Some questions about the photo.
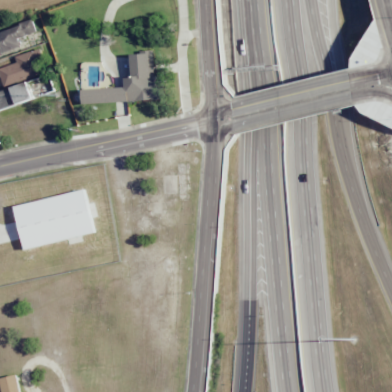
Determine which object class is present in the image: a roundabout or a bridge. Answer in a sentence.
It is a bridge that can be seen here.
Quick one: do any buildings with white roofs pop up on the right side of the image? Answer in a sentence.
No, the scene shows no building with a white roof on the right side of the image.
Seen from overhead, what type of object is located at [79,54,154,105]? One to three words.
house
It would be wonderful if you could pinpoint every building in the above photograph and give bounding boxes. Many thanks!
[79,54,154,105]
[0,50,38,88]
[12,190,99,250]
[0,78,58,112]
[0,376,22,392]
[0,20,38,53]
